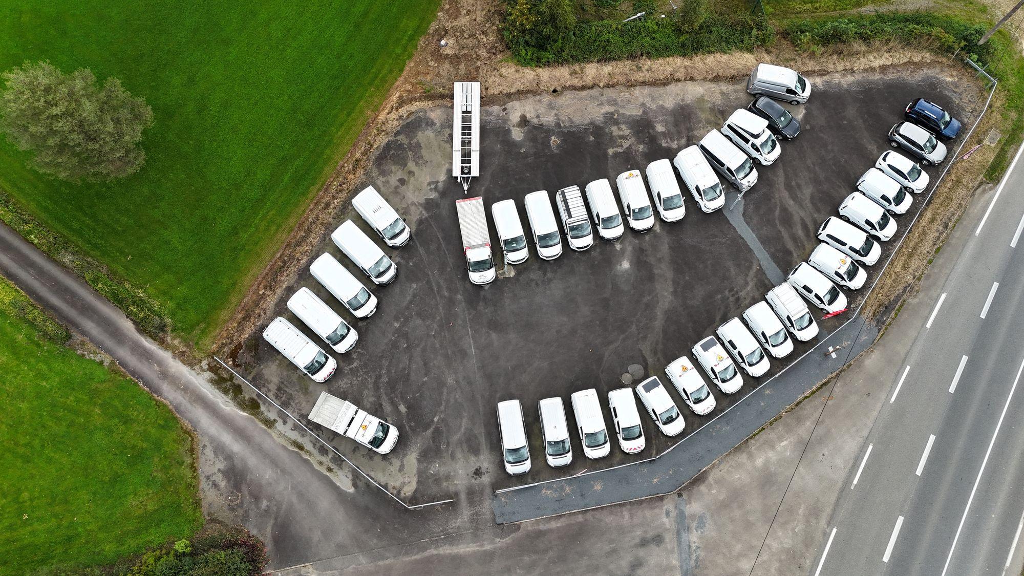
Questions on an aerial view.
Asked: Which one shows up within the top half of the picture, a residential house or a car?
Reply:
car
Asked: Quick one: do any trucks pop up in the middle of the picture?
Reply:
Yes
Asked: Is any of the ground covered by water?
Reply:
No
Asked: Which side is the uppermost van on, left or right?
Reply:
right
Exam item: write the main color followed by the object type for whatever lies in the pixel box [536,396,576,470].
white vehicle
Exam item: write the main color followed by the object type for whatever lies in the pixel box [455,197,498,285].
white truck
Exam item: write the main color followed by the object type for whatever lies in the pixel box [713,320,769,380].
white van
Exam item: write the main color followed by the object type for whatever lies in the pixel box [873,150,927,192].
white car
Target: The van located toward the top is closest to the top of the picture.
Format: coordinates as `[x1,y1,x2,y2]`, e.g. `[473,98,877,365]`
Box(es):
[748,63,812,106]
